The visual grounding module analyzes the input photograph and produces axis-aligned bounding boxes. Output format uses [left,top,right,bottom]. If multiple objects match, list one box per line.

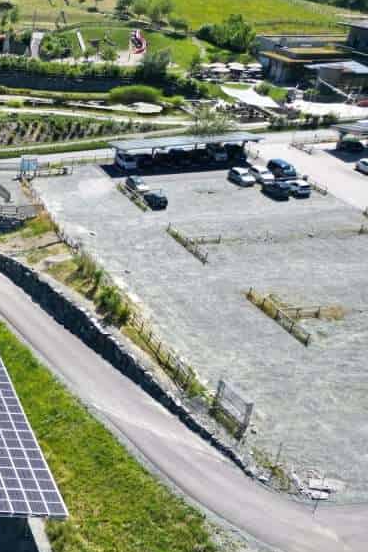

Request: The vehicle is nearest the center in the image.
[140,192,172,208]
